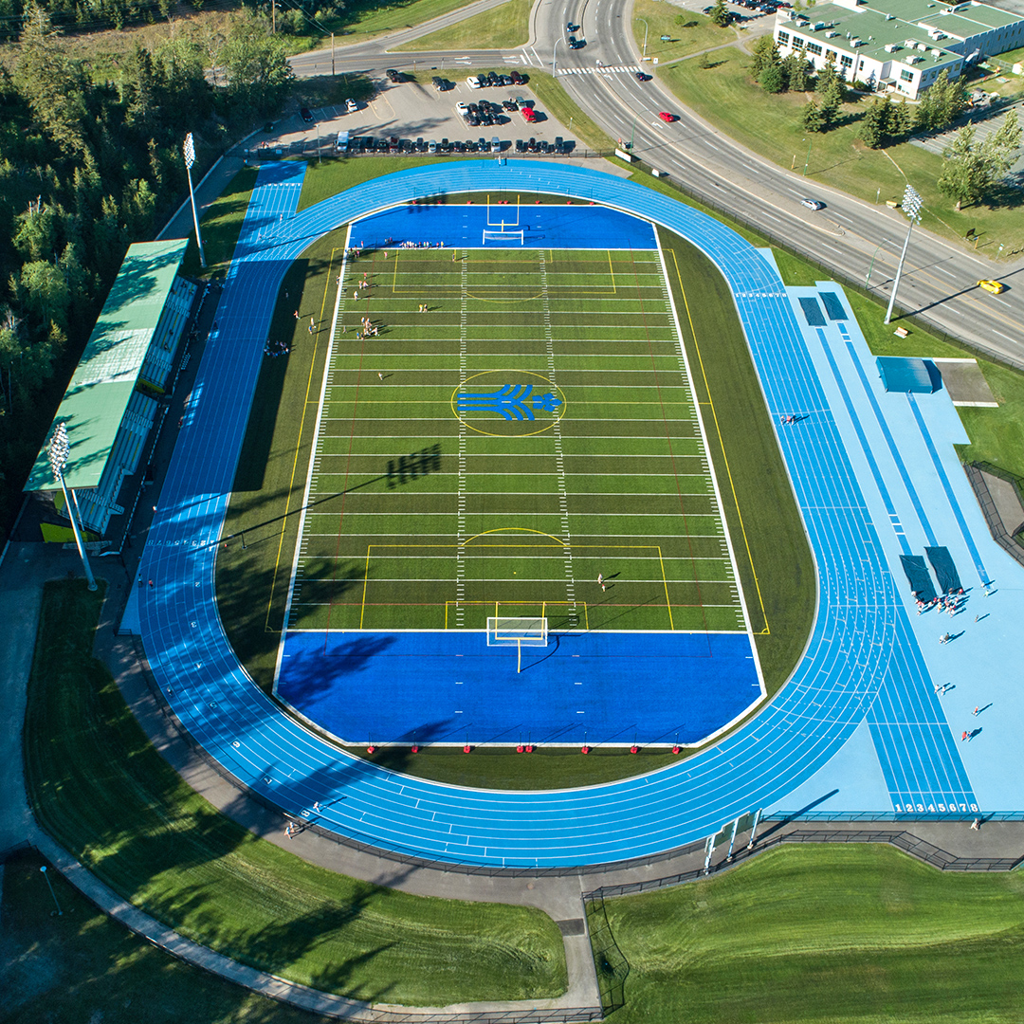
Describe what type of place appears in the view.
sports ground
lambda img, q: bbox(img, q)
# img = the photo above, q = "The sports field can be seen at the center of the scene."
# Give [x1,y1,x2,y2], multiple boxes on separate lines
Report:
[214,190,817,791]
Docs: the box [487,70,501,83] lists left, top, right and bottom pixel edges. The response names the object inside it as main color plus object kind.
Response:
black vehicle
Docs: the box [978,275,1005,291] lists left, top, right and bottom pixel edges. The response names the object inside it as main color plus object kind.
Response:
yellow car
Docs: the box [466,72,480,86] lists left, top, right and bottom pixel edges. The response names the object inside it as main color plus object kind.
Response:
white car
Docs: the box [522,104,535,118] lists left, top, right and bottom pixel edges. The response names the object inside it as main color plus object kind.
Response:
red vehicle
